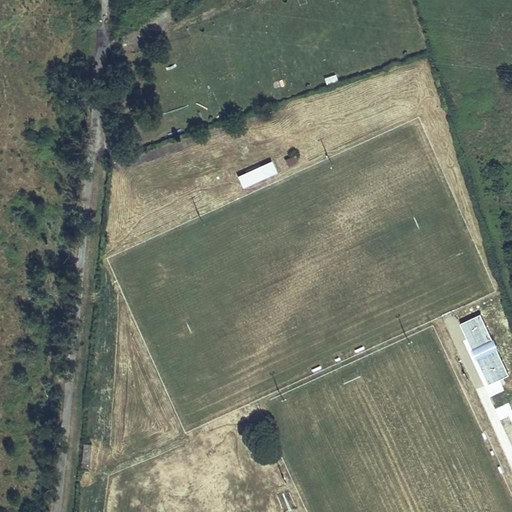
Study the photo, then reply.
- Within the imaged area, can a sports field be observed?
Yes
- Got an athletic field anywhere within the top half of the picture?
Yes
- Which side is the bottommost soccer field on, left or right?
right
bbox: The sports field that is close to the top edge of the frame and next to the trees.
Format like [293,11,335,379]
[135,0,423,142]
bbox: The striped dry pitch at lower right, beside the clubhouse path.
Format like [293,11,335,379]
[264,327,512,512]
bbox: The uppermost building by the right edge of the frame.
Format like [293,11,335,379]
[459,314,508,397]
